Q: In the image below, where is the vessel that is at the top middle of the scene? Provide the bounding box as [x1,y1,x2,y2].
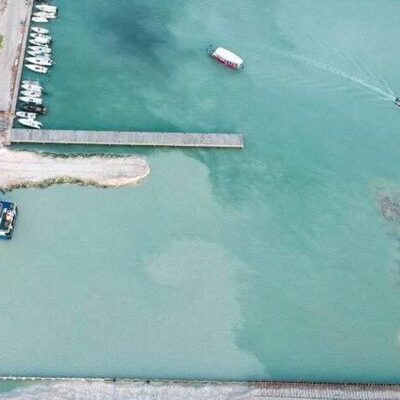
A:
[209,44,248,70]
